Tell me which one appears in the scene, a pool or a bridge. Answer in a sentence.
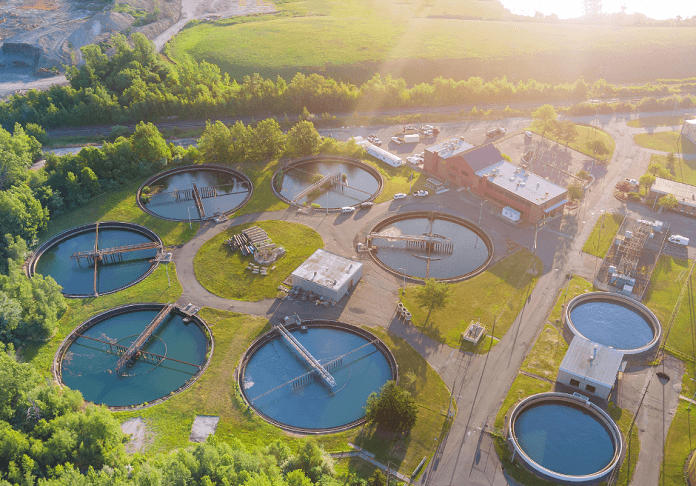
The image shows a bridge.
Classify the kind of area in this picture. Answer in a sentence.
What you see here is an industrial area.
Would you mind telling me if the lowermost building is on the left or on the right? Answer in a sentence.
You can find the lowermost building on the right side of the picture.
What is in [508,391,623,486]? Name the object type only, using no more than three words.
storage tank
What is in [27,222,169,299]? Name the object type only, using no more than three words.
storage tank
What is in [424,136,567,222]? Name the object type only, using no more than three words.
building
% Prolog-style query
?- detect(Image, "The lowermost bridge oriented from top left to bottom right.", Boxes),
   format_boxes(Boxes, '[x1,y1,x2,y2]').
[276,319,334,387]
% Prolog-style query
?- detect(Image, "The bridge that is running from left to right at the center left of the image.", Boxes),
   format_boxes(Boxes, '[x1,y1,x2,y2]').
[70,237,164,263]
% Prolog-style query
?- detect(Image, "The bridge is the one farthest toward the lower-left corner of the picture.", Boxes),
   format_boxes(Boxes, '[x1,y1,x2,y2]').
[111,299,179,375]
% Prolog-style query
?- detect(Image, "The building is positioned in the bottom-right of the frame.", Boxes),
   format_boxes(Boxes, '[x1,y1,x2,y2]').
[557,336,625,400]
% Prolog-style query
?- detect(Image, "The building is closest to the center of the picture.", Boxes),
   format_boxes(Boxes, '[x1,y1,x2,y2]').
[292,249,362,307]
